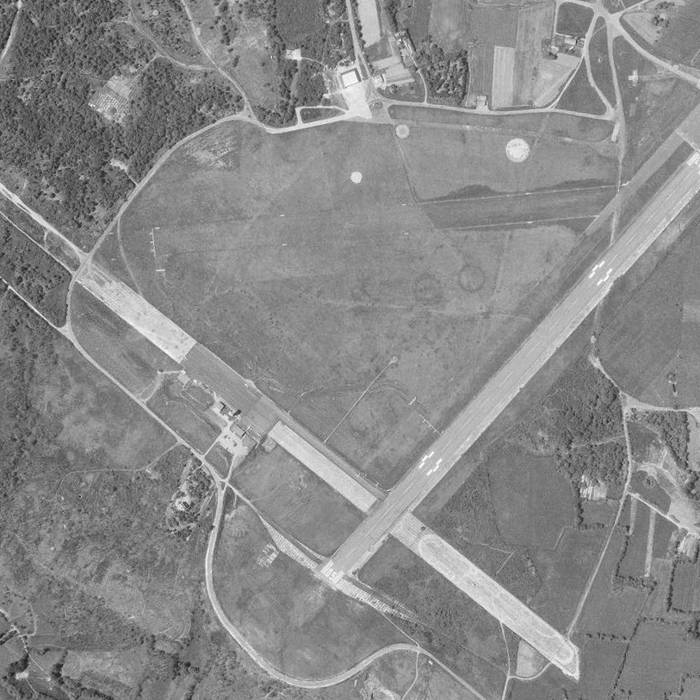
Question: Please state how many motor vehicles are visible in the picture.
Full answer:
Not a single motor vehicle can be seen.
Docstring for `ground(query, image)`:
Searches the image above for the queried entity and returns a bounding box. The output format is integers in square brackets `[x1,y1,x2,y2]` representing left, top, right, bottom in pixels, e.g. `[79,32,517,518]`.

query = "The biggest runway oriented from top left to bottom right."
[389,512,580,680]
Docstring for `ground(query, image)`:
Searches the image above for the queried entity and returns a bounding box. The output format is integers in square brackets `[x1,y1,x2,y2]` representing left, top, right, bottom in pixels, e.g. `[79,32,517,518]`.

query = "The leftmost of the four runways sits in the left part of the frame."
[77,262,196,363]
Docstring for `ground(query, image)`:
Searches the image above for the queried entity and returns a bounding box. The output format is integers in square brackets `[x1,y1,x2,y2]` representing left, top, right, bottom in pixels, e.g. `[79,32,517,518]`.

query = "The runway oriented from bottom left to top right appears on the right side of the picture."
[322,151,700,583]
